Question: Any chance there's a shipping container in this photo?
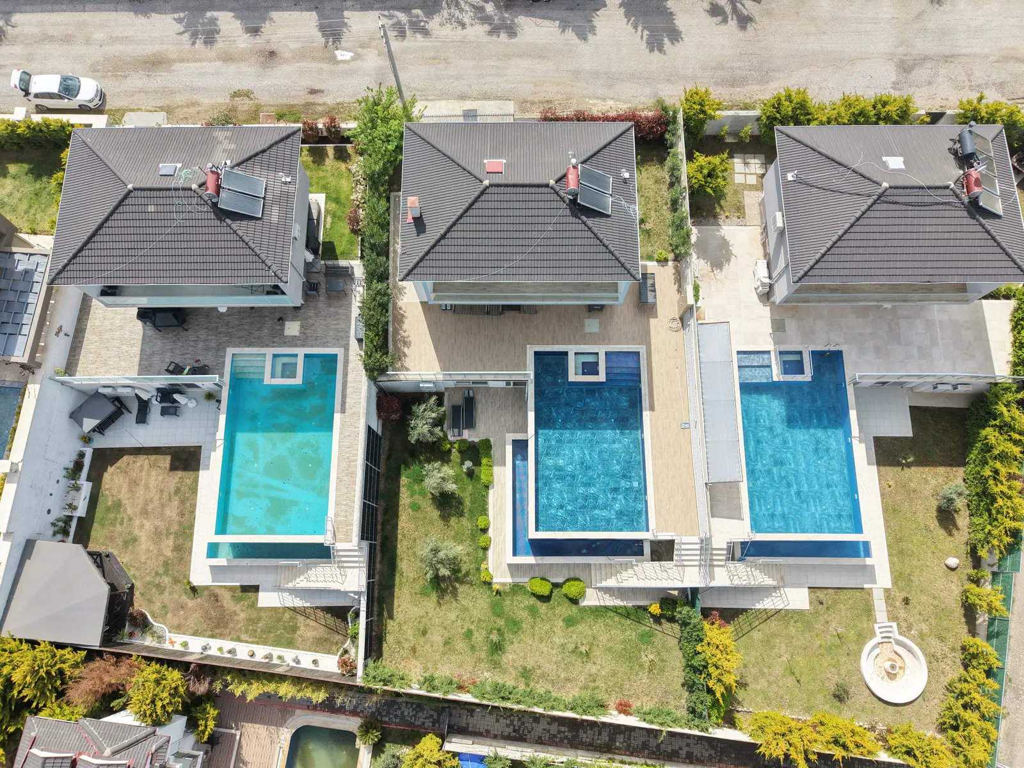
No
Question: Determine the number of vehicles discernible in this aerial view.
1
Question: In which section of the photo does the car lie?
top left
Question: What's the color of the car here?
white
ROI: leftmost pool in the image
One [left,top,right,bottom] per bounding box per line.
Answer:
[0,380,21,458]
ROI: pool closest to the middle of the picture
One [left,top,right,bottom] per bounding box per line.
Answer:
[507,346,656,564]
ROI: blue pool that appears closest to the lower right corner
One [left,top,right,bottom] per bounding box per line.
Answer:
[725,346,874,564]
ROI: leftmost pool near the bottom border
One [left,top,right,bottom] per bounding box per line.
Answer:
[278,714,373,768]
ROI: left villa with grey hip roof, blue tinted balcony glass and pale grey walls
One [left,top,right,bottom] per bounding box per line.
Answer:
[41,126,311,304]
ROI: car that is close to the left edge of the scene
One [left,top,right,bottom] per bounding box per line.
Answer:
[6,68,104,114]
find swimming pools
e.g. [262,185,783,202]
[725,346,874,564]
[0,380,21,458]
[278,714,373,768]
[205,346,347,564]
[507,346,656,564]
